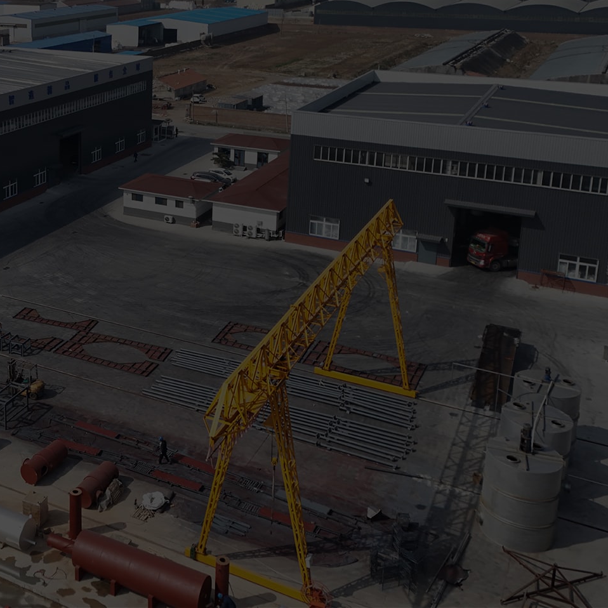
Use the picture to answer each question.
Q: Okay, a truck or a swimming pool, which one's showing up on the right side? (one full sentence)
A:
You can see a truck on the right side.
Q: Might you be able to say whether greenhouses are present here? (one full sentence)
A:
Yes, the photo shows a greenhouse.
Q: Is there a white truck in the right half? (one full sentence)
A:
No, there is no white truck in the right half.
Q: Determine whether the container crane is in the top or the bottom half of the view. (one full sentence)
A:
Seen from above, the container crane lies in the bottom half of the view.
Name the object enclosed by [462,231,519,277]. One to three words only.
truck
